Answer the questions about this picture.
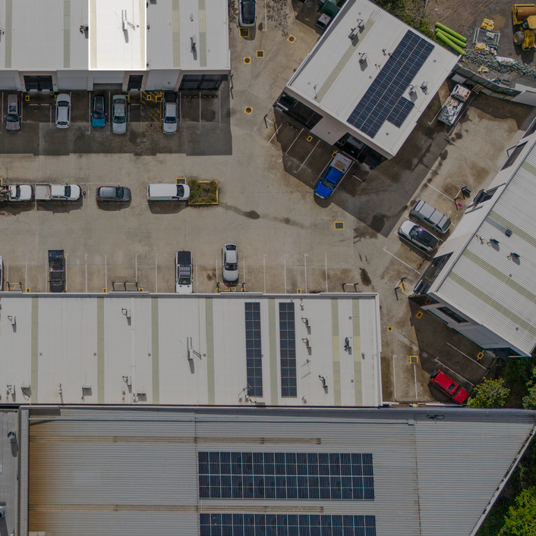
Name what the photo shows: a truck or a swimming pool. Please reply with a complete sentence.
I can see a truck in this picture.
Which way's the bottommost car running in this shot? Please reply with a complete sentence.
The bottommost car has been laid out on a diagonal relative to the frame.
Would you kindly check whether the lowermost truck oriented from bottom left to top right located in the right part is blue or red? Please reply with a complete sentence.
The lowermost truck oriented from bottom left to top right located in the right part is blue.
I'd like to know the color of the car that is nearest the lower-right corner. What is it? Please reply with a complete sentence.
In this view, the car that is nearest the lower-right corner is red.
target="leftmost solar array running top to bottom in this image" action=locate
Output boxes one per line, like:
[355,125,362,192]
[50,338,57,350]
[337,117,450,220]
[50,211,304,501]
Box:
[245,302,263,397]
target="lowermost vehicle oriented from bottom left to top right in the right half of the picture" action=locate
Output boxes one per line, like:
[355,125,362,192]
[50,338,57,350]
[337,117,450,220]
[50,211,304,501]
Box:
[315,152,353,198]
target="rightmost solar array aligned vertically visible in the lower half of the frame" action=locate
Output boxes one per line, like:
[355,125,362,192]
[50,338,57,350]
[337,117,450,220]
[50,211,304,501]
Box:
[280,302,298,398]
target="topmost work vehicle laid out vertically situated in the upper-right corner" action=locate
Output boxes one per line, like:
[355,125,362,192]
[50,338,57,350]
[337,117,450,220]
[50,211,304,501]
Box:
[515,7,536,55]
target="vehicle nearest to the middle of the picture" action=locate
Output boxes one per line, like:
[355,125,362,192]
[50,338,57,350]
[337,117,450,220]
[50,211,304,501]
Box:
[222,243,241,285]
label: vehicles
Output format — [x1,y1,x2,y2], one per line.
[407,199,451,234]
[53,92,72,132]
[395,221,440,253]
[237,0,255,28]
[95,184,133,203]
[222,243,241,285]
[36,183,82,202]
[110,95,129,134]
[315,152,353,198]
[146,183,190,203]
[428,369,471,404]
[436,82,472,128]
[173,250,193,292]
[160,91,180,135]
[89,94,108,130]
[2,183,32,202]
[515,7,536,55]
[47,248,66,292]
